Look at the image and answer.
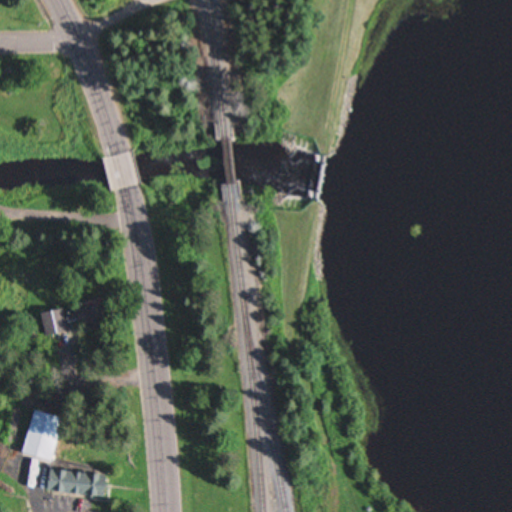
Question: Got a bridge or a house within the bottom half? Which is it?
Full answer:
The feature located within the bottom half is a house.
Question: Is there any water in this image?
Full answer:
Yes, water shows up in the scene.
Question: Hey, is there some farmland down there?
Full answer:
No, farmland can't be seen anywhere here.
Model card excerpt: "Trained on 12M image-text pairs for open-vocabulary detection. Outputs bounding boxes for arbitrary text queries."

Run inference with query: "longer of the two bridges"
[212,119,244,206]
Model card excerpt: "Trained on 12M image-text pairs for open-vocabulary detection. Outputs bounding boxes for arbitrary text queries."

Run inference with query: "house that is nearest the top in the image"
[40,310,64,336]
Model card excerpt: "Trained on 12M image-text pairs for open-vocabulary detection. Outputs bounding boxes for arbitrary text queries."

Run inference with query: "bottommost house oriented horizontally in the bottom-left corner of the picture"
[46,467,110,498]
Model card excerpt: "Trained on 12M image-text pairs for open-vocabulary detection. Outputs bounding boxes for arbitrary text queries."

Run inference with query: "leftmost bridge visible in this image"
[103,151,138,191]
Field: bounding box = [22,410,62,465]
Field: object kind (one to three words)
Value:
barn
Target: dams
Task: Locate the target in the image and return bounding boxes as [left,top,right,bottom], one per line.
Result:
[290,144,326,206]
